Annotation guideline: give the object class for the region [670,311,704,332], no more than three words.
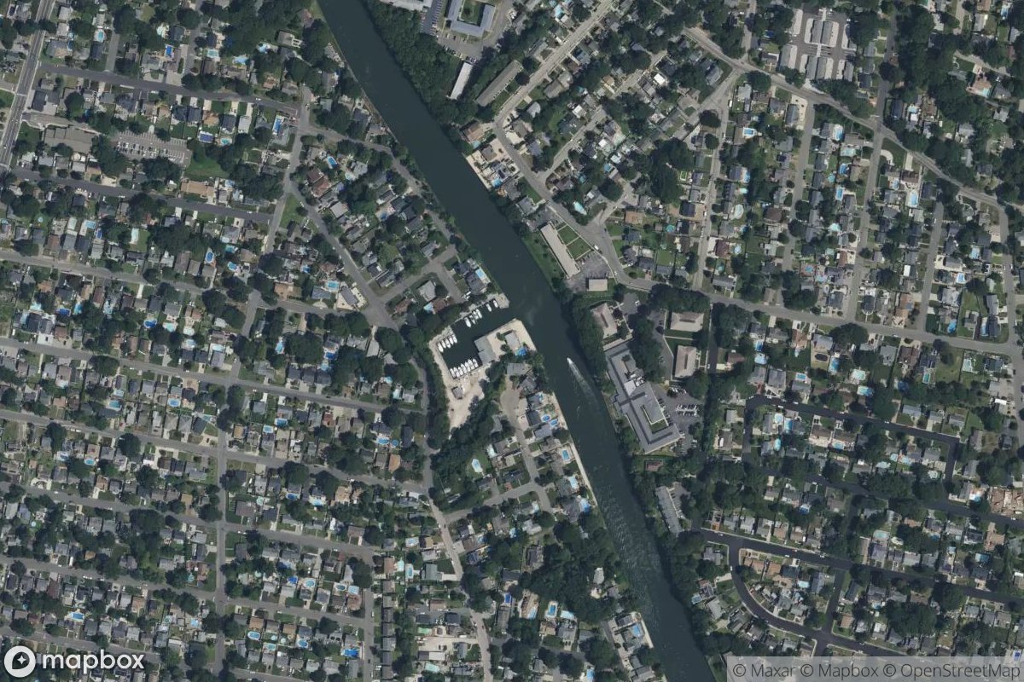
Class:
building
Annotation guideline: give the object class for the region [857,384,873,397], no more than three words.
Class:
swimming pool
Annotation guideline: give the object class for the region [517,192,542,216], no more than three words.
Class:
house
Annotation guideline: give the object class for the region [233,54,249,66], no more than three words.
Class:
swimming pool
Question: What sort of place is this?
residential area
